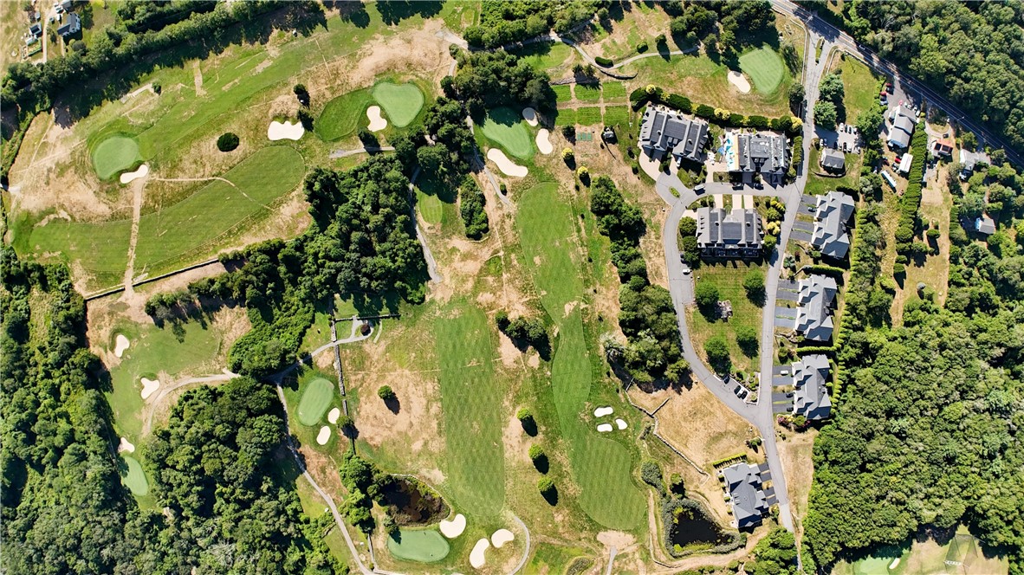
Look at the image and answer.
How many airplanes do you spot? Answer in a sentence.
There are no airplanes in the image.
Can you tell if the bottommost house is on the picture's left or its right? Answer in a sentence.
You can find the bottommost house on the right side of the picture.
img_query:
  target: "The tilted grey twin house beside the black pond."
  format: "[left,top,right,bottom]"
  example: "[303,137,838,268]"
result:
[719,458,768,528]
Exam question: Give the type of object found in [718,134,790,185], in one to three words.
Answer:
house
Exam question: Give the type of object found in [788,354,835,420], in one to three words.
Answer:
house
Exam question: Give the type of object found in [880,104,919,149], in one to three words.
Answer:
building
